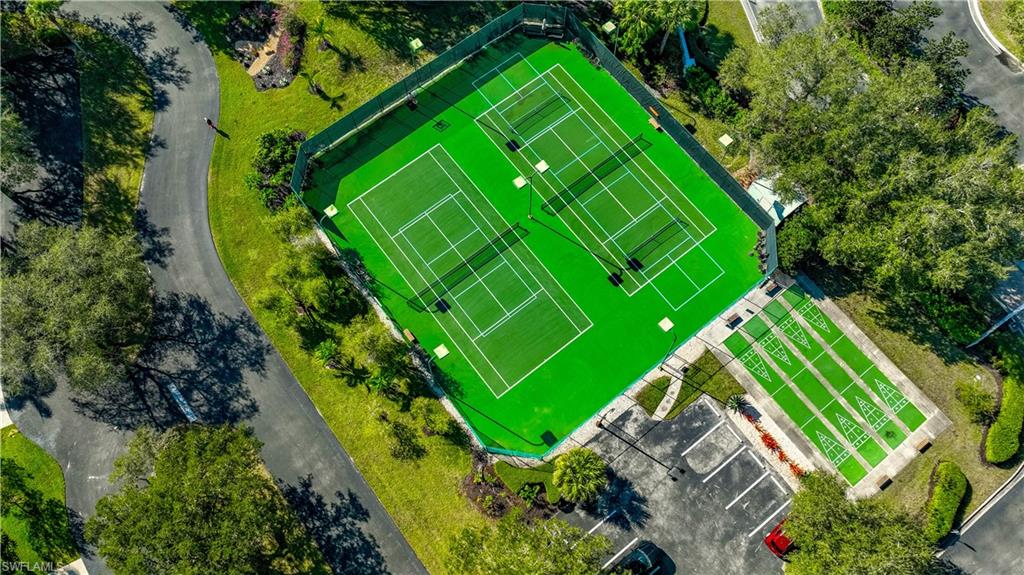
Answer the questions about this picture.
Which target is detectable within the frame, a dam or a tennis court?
tennis court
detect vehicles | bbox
[619,549,666,575]
[767,507,810,556]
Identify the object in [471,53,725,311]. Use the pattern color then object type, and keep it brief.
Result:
green tennis court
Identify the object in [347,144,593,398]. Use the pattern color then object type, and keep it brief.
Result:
green tennis court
